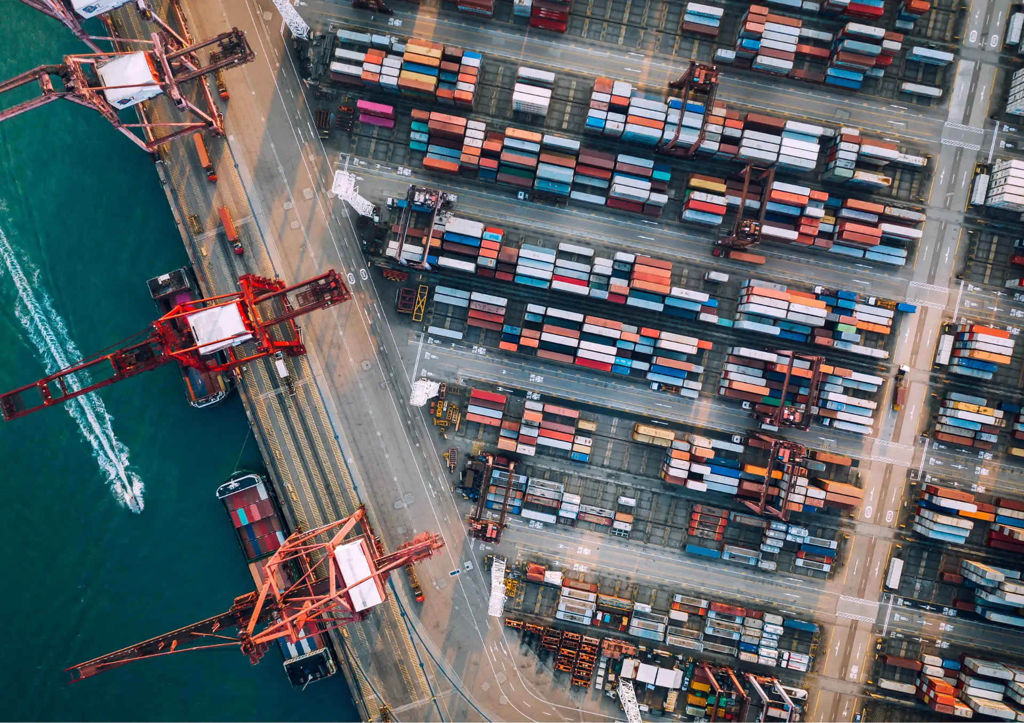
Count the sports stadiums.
0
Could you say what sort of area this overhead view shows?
port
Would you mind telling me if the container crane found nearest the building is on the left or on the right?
right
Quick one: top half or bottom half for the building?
bottom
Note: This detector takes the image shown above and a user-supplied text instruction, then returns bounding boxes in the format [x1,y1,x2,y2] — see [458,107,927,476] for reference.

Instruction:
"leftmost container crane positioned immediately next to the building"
[701,667,750,723]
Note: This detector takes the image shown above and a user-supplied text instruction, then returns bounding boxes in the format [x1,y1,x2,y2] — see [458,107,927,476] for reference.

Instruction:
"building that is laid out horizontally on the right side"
[618,656,684,689]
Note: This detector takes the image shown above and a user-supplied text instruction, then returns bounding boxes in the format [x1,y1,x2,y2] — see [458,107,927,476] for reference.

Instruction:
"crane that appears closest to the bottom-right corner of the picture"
[740,674,797,723]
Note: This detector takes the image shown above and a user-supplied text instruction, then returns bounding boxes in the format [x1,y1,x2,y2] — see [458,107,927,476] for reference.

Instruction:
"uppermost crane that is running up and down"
[667,50,719,151]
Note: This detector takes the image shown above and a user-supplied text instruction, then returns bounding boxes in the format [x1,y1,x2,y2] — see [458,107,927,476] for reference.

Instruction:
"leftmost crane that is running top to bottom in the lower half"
[466,456,521,551]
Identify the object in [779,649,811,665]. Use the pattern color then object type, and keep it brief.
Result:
white vehicle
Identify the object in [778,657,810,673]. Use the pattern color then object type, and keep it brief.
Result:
white vehicle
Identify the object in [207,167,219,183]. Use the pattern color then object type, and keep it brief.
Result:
red vehicle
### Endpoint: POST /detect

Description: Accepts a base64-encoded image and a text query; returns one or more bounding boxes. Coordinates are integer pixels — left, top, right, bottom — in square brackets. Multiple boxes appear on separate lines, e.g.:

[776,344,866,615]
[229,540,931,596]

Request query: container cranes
[399,180,450,270]
[466,456,521,551]
[61,499,445,685]
[667,50,719,151]
[0,269,355,424]
[0,0,192,63]
[735,433,806,521]
[751,351,825,439]
[0,26,257,160]
[711,163,778,251]
[740,674,797,723]
[701,667,750,723]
